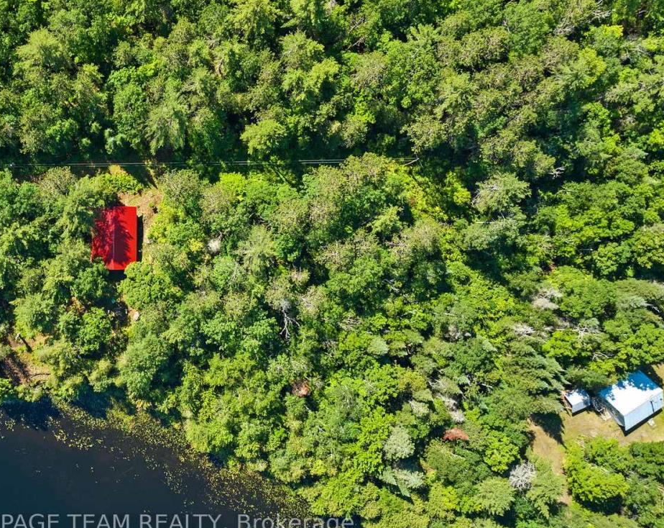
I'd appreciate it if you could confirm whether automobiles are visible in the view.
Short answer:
No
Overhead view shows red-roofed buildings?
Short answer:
Yes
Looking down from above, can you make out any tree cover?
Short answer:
Yes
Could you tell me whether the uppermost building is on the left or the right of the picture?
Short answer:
left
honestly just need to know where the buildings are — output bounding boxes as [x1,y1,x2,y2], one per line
[594,373,664,433]
[562,388,591,415]
[91,206,137,271]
